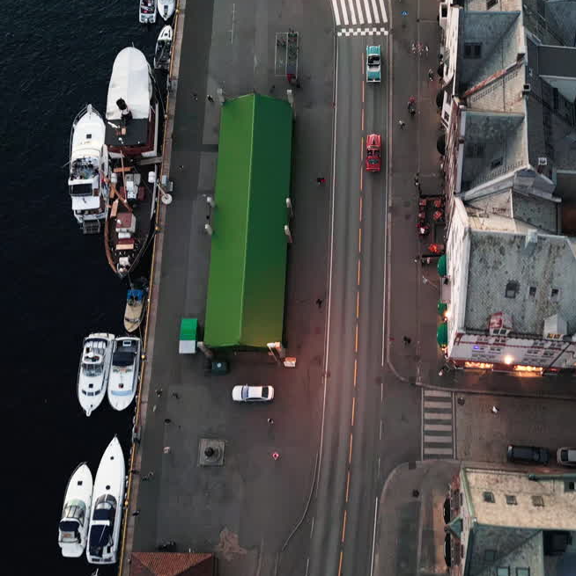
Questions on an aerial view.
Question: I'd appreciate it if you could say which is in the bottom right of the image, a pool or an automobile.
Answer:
automobile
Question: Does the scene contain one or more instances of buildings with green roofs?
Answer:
Yes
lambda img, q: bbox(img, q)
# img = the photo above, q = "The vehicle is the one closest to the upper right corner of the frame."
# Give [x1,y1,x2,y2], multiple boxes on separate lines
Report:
[365,46,381,86]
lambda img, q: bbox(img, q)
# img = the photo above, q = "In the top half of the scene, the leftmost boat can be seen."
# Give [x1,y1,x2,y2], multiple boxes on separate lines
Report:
[64,100,109,235]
